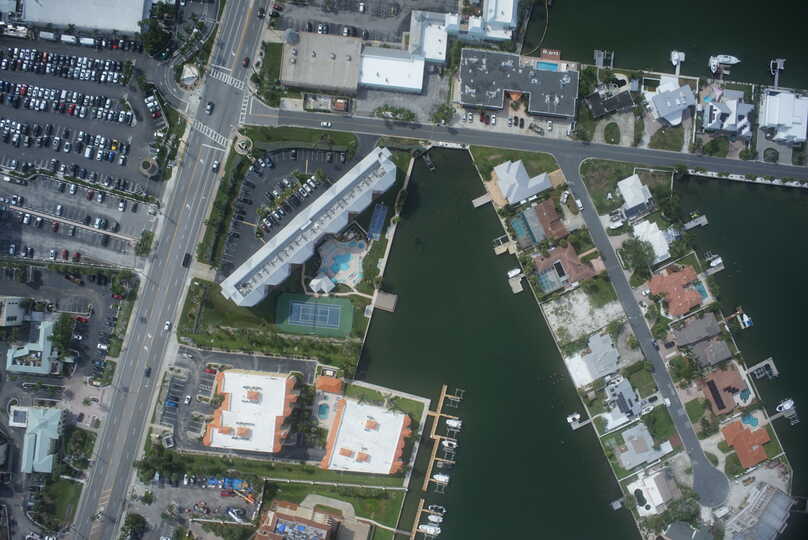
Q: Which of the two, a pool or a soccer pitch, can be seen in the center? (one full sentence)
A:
You can see a pool in the center.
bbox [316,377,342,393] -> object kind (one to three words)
building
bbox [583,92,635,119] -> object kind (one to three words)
house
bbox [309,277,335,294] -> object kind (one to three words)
gazebo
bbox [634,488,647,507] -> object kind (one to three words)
swimming pool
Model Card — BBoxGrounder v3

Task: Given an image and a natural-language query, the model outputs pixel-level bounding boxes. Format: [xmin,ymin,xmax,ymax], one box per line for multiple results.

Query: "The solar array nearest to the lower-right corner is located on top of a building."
[706,379,739,409]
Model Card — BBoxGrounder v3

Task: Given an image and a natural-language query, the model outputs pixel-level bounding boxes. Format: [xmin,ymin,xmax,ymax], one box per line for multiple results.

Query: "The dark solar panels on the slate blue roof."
[611,388,634,419]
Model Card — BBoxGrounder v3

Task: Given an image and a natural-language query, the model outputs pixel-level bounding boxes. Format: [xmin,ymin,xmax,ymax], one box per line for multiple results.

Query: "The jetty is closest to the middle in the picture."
[374,292,398,312]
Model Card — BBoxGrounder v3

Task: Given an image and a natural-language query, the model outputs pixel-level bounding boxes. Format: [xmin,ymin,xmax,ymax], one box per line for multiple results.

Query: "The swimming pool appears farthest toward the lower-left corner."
[317,403,330,420]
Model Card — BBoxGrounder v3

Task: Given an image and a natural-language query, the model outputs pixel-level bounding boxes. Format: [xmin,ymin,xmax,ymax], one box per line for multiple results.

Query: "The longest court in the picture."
[275,293,353,336]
